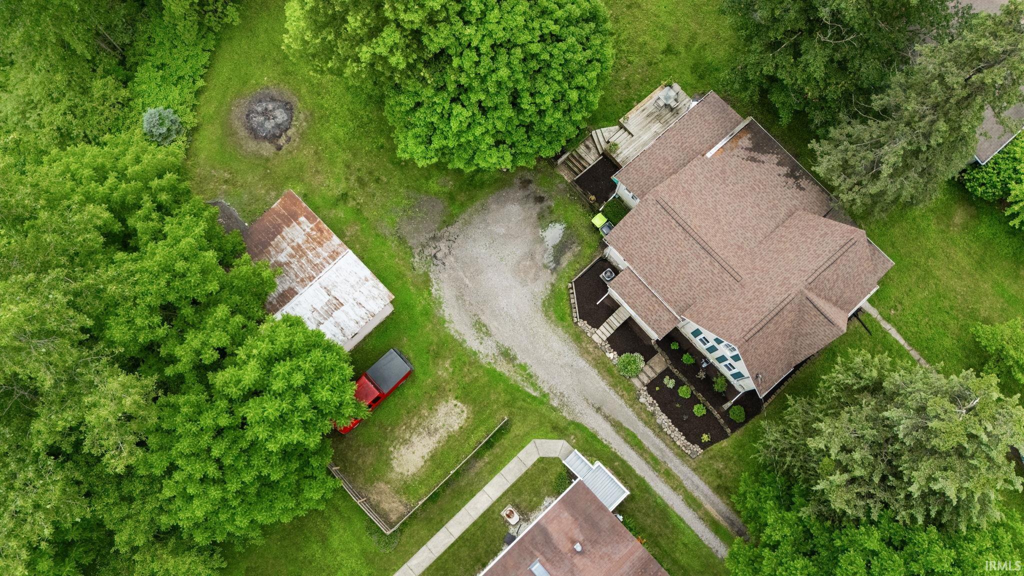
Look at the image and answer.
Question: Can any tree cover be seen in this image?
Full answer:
Yes, tree cover shows up in the scene.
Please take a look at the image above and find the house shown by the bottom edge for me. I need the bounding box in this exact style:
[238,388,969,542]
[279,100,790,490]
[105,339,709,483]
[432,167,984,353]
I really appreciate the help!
[481,478,670,576]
